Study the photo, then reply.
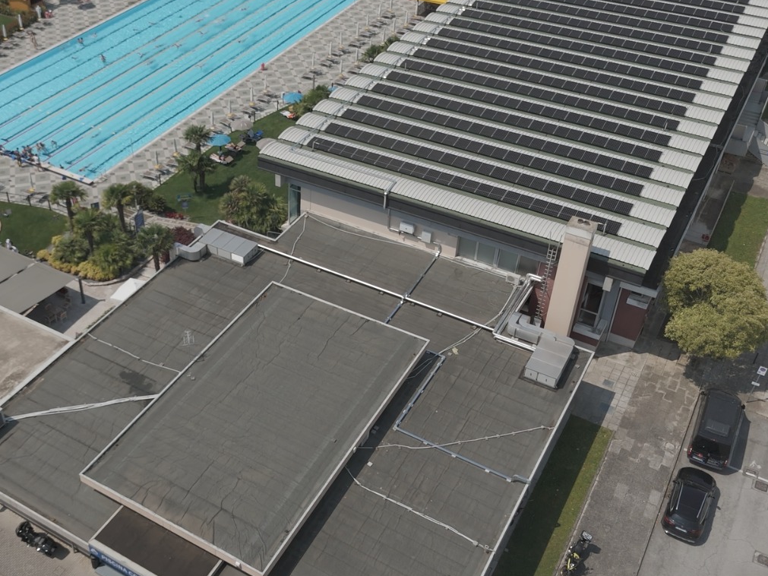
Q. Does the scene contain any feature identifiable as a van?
Yes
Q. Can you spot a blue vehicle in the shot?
No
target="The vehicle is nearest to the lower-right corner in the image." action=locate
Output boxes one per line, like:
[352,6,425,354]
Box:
[658,466,721,547]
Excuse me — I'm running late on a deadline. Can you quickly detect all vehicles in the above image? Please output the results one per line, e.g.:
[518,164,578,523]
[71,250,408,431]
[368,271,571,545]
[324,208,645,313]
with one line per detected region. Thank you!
[19,519,55,552]
[686,399,747,479]
[658,466,721,547]
[567,531,594,576]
